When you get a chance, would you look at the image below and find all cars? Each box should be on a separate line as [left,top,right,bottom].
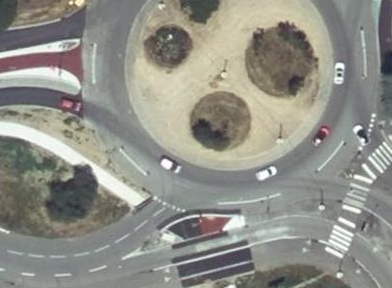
[312,126,331,146]
[256,166,278,180]
[354,125,370,146]
[60,98,83,111]
[334,62,345,84]
[160,156,182,174]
